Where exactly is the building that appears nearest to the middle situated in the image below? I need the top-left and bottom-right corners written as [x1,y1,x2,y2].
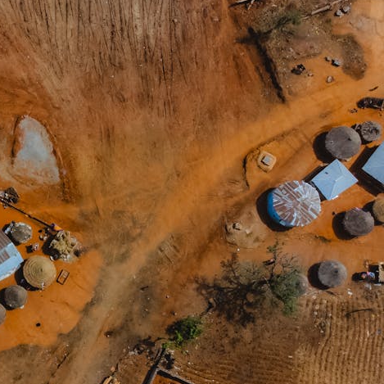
[266,180,321,227]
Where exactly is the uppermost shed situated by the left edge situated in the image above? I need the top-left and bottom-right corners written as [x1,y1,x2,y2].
[8,218,34,245]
